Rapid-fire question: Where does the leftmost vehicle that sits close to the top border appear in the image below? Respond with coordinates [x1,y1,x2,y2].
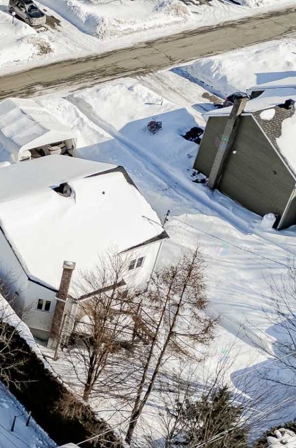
[13,0,57,29]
